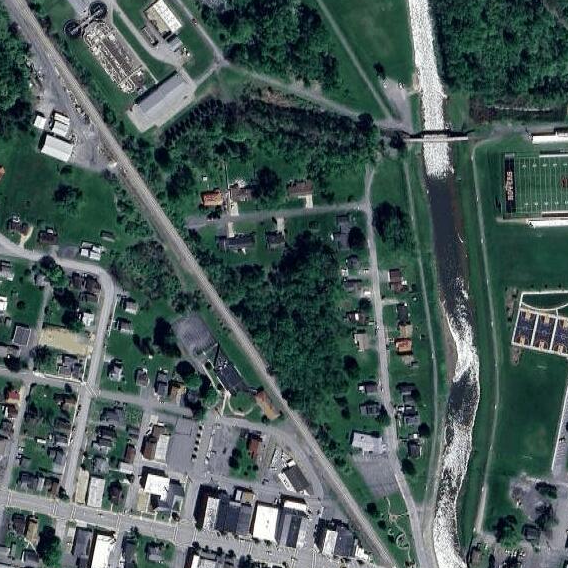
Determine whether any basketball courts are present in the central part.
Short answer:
No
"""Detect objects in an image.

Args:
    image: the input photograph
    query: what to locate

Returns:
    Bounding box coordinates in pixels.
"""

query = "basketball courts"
[514,310,537,345]
[533,314,555,348]
[551,319,568,353]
